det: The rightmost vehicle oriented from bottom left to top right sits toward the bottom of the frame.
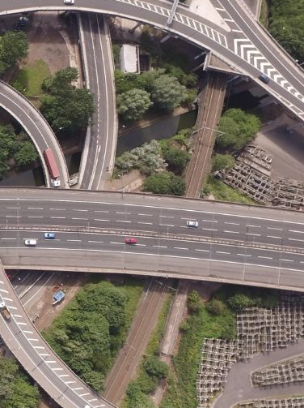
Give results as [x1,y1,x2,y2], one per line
[49,289,65,307]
